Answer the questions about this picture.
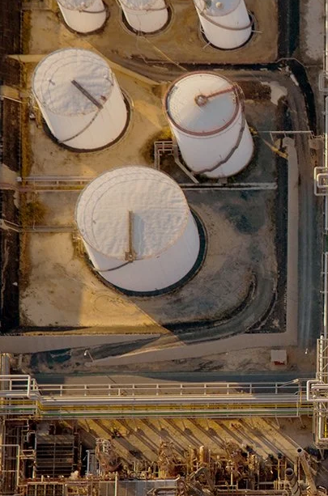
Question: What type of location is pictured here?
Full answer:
What you see here is an industrial area.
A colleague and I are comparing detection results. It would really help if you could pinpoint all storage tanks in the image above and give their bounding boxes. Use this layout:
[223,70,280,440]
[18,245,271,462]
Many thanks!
[55,0,114,40]
[71,160,209,305]
[115,0,177,43]
[31,45,135,157]
[190,0,260,56]
[158,65,257,180]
